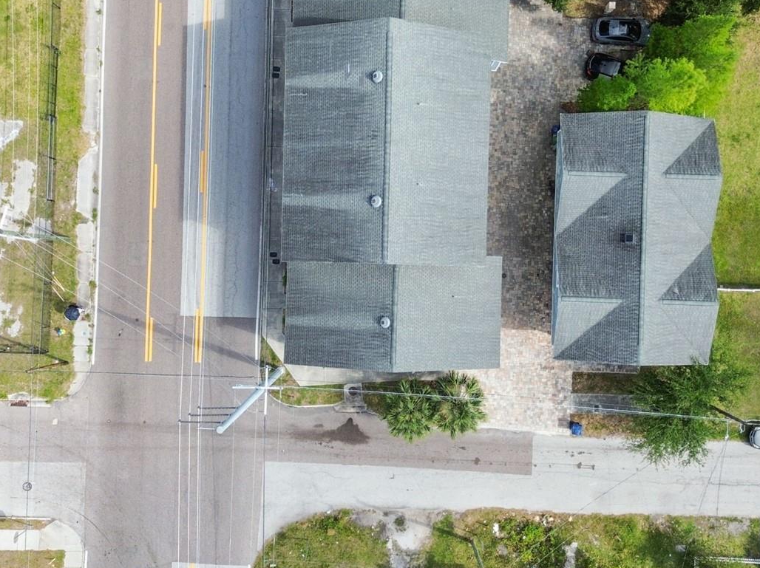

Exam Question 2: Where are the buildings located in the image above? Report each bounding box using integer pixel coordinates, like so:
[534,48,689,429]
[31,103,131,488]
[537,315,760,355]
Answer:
[281,0,509,374]
[544,111,723,368]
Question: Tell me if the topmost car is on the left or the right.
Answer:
right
